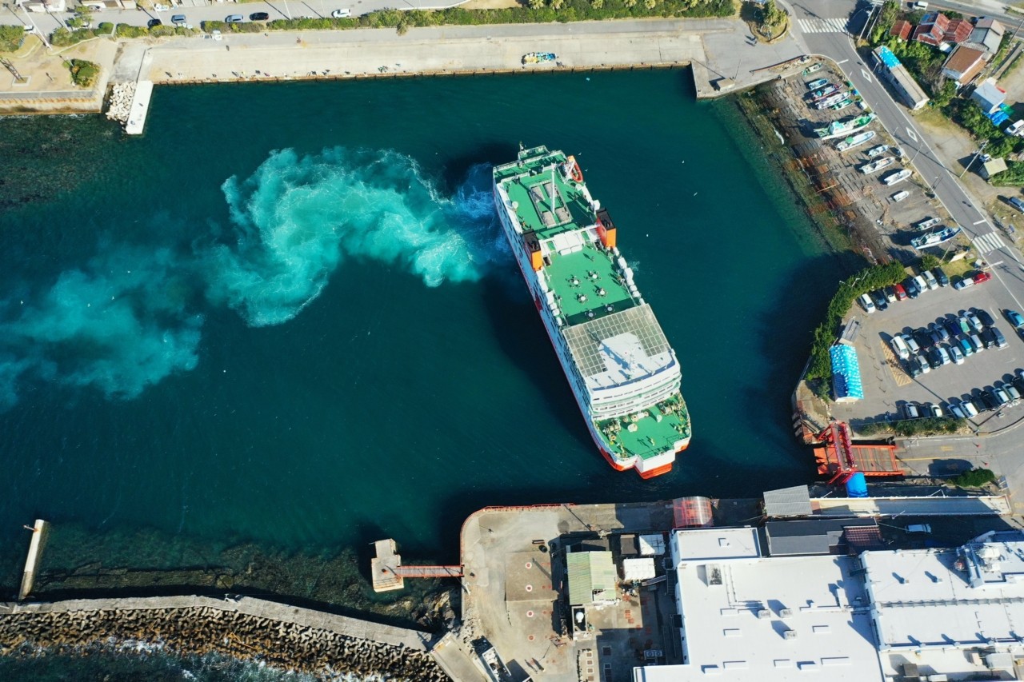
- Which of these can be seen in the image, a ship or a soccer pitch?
ship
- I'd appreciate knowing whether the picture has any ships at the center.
Yes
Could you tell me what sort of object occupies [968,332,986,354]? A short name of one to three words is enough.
car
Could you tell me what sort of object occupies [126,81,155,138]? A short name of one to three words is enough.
pier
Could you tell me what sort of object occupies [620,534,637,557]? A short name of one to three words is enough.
shed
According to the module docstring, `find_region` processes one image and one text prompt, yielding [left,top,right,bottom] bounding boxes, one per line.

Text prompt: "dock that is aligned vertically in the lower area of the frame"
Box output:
[19,520,52,600]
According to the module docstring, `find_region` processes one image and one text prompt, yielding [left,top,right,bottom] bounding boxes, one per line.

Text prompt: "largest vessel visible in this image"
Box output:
[494,139,692,481]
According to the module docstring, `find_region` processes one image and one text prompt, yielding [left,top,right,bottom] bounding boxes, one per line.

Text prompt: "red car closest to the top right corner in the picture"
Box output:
[973,271,994,285]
